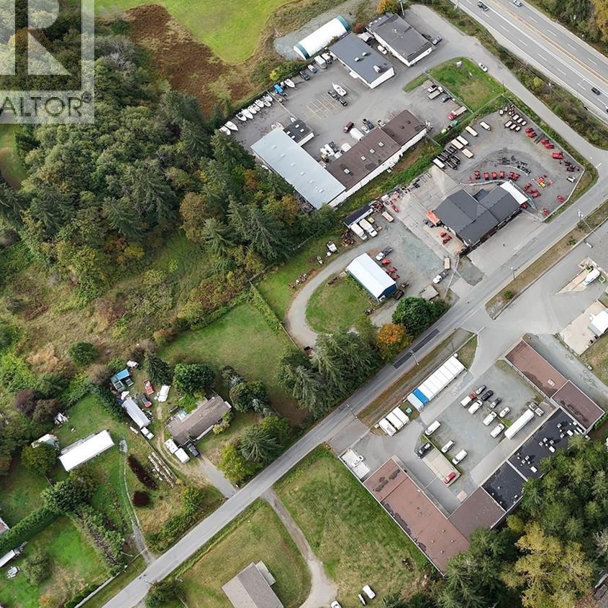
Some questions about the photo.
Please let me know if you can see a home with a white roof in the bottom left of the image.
Yes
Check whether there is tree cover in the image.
Yes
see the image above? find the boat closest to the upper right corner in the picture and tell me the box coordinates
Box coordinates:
[332,80,347,93]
